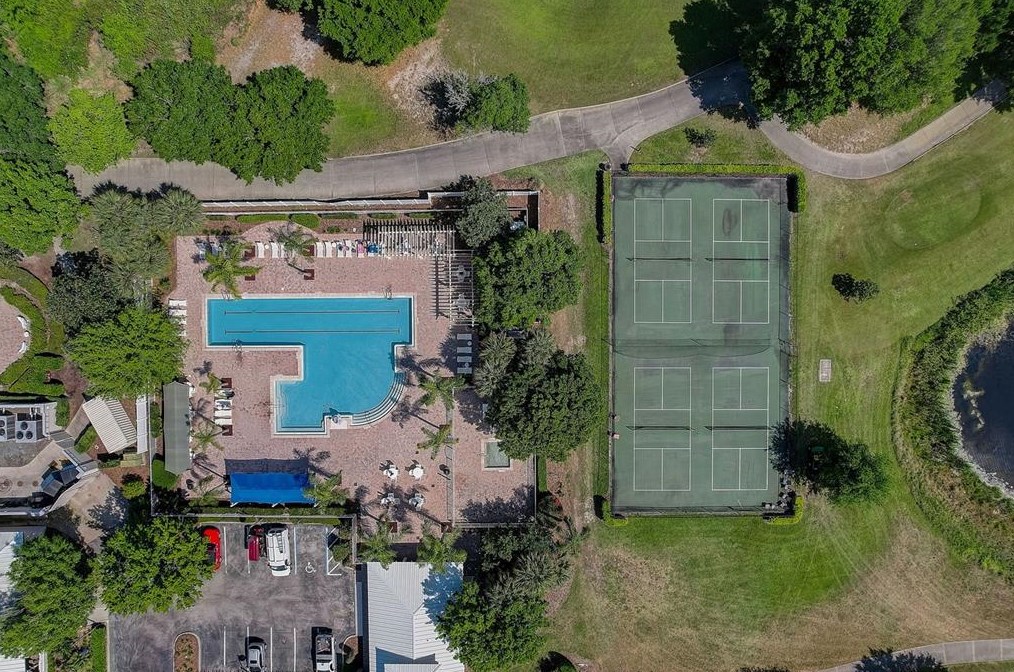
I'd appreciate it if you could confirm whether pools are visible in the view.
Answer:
Yes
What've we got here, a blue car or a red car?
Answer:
red car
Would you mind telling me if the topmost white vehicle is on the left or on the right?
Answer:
left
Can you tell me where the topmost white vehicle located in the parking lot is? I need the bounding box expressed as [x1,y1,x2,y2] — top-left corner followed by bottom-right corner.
[263,528,289,578]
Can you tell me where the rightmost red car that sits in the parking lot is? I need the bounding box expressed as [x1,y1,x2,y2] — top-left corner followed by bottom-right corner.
[247,526,268,566]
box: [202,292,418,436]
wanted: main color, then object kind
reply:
blue swimming pool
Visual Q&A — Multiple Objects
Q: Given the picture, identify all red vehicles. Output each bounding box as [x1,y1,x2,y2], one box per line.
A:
[247,526,268,566]
[199,528,220,572]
